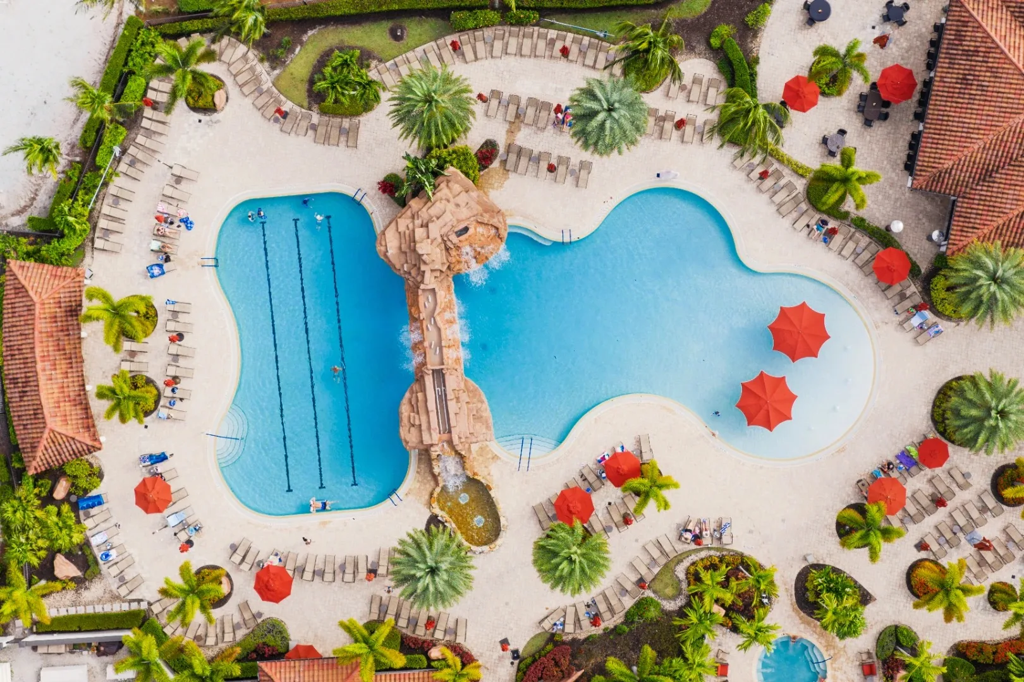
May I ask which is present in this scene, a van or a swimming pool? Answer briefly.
swimming pool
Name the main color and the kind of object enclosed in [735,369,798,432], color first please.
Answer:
red umbrella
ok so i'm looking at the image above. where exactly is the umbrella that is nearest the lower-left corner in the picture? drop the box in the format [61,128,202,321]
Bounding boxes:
[134,476,172,513]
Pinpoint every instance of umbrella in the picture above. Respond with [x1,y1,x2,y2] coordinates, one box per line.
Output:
[286,643,321,659]
[867,476,906,511]
[783,76,819,112]
[604,450,641,488]
[554,486,593,524]
[871,247,910,285]
[767,299,831,364]
[134,476,172,513]
[916,437,949,469]
[876,64,916,104]
[255,565,292,602]
[735,369,798,432]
